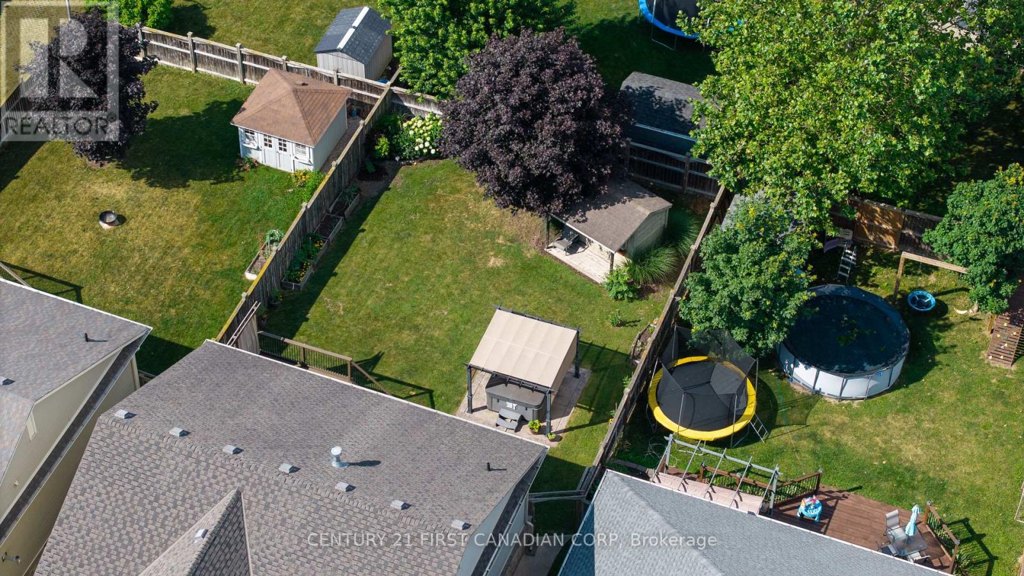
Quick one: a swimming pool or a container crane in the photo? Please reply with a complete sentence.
Looking from above, you can make out a swimming pool.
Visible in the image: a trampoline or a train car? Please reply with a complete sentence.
The one in the frame is a trampoline.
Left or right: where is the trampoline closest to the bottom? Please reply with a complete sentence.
You can find the trampoline closest to the bottom on the right side of the picture.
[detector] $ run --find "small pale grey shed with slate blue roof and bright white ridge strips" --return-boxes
[313,6,394,81]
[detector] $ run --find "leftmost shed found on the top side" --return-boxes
[229,69,353,176]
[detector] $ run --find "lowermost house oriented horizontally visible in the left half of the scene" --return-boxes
[30,339,552,576]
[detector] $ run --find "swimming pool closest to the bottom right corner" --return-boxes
[773,286,910,408]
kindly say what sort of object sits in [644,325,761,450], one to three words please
trampoline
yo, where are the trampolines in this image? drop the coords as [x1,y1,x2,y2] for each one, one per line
[644,325,761,450]
[638,0,726,51]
